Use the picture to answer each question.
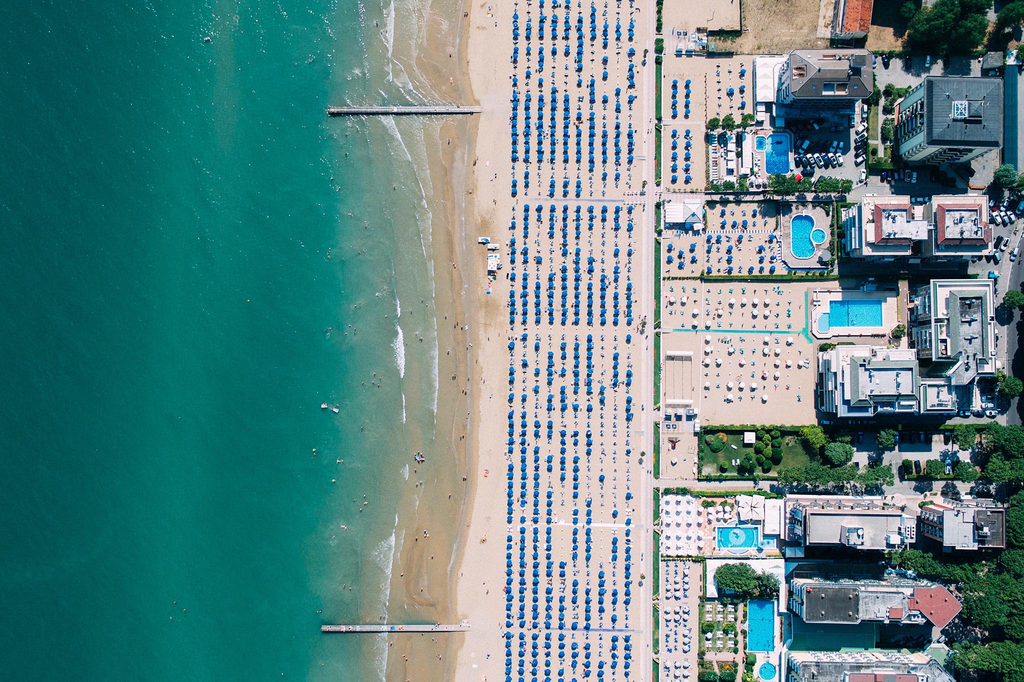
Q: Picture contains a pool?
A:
Yes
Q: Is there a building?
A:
Yes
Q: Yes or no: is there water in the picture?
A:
Yes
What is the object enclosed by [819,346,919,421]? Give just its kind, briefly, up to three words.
building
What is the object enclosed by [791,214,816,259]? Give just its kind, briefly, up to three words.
swimming pool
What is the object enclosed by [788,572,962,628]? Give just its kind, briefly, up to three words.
building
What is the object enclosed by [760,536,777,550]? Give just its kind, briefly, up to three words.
swimming pool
